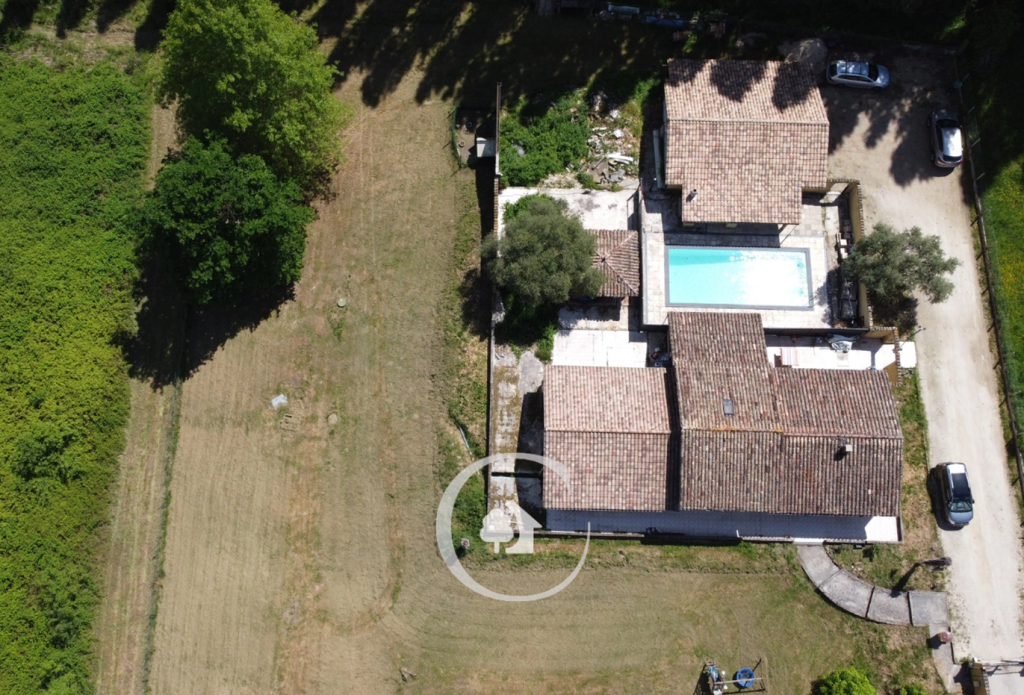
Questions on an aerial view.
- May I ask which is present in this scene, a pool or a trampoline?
pool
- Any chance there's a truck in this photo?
No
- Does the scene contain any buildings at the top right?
Yes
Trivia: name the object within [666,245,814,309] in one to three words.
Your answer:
swimming pool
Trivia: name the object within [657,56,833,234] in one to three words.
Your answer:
building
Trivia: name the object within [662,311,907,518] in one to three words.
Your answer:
house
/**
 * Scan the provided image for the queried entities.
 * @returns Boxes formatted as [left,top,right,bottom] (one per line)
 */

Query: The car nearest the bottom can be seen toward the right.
[929,462,973,528]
